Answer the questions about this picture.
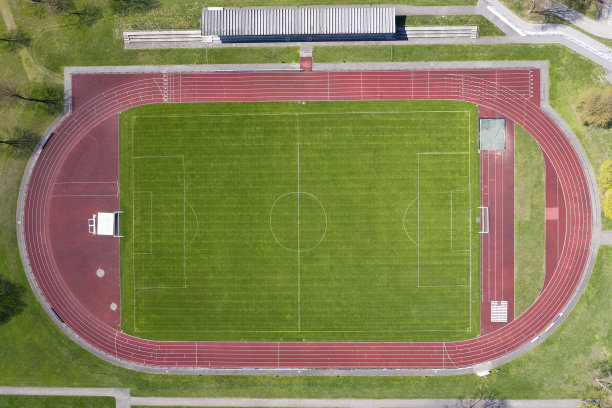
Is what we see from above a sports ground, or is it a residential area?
sports ground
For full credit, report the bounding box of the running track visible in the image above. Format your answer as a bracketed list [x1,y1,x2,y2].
[23,57,592,367]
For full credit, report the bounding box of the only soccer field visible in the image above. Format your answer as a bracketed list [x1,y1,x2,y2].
[119,100,481,342]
